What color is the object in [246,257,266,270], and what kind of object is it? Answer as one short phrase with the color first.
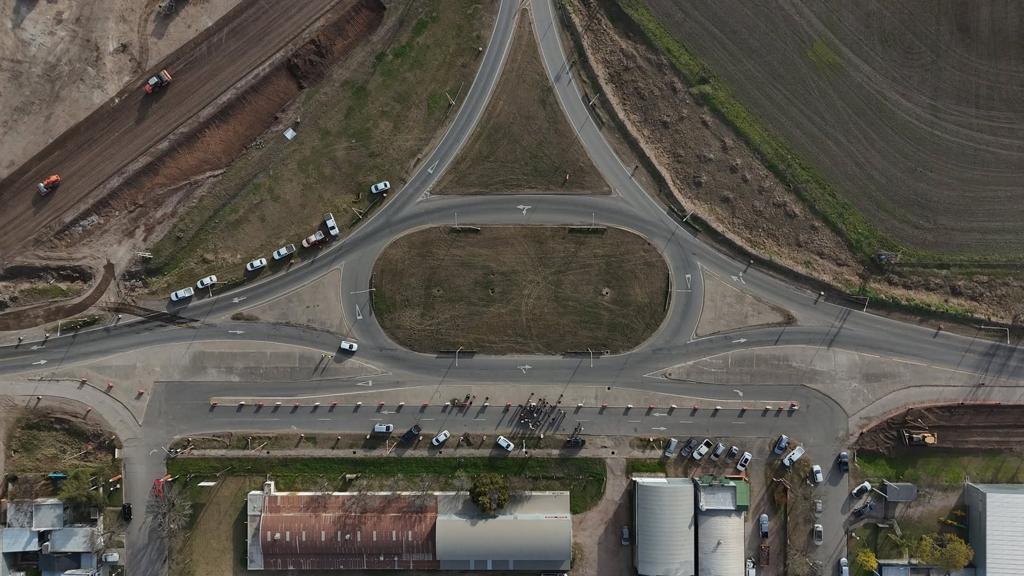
white vehicle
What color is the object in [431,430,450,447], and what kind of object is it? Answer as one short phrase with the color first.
white car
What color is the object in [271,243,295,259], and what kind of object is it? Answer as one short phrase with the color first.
white vehicle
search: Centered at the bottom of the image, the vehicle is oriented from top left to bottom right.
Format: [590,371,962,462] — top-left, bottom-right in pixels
[495,436,514,451]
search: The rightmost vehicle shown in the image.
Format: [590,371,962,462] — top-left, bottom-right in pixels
[903,430,932,447]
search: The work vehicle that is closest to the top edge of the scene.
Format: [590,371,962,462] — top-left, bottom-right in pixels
[144,70,168,89]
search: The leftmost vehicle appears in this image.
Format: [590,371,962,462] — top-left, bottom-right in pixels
[33,175,56,194]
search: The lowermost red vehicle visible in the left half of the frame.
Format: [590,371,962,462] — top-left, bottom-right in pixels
[152,480,164,498]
